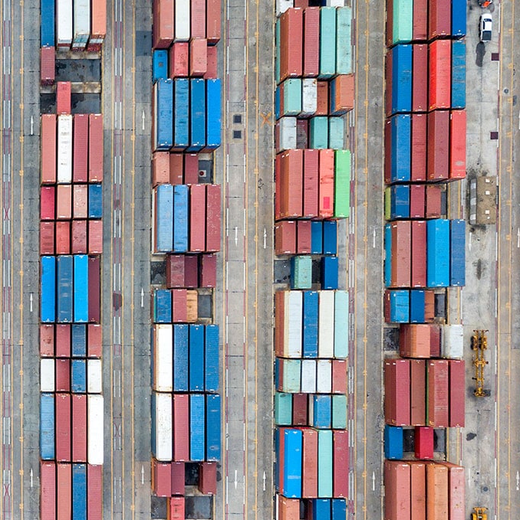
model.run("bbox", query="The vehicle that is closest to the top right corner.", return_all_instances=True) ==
[478,14,492,44]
